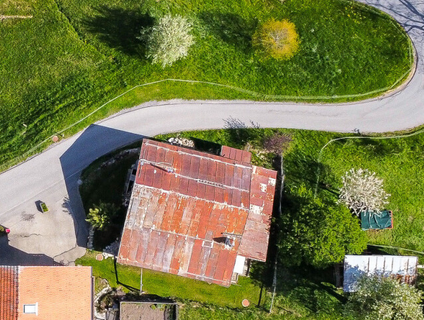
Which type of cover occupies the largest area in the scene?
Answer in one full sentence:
What you mostly see from above here is grass.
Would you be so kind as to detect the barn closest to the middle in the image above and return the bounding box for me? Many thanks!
[117,139,276,288]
